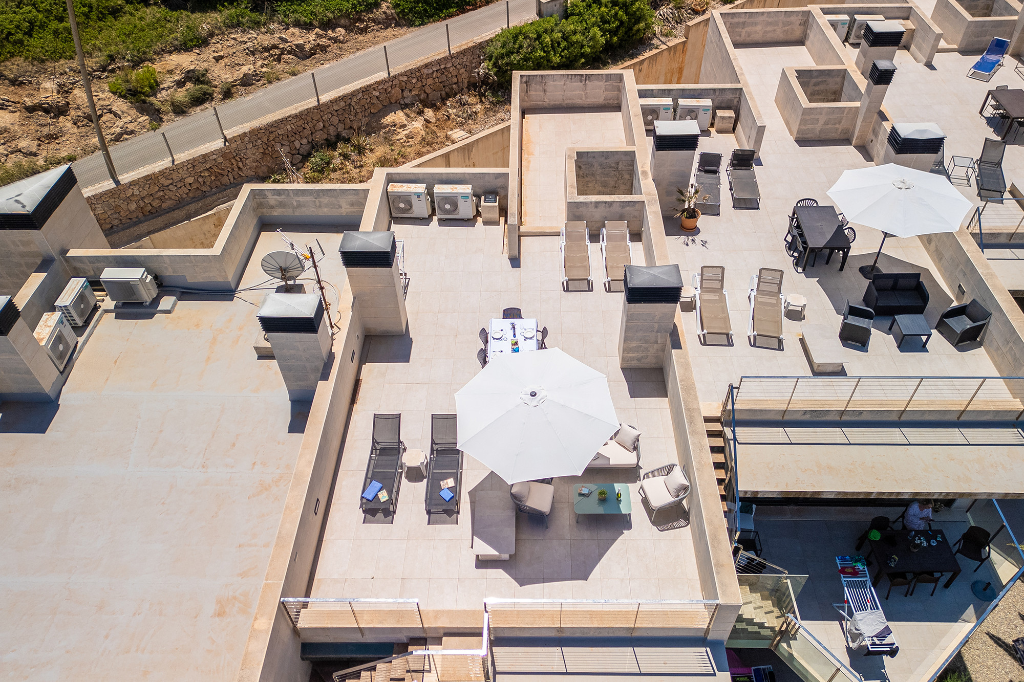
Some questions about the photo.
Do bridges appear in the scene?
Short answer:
No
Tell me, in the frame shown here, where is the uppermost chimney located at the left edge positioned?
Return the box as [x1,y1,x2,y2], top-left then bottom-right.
[0,163,108,292]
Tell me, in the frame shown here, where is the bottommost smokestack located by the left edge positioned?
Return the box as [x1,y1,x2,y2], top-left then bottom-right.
[0,297,64,400]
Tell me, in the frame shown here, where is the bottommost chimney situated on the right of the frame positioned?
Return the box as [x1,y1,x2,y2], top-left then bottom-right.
[619,260,683,369]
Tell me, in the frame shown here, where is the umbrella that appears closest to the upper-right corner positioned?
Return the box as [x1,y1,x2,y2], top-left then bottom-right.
[826,162,973,277]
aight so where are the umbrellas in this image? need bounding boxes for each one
[452,349,623,486]
[826,162,973,277]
